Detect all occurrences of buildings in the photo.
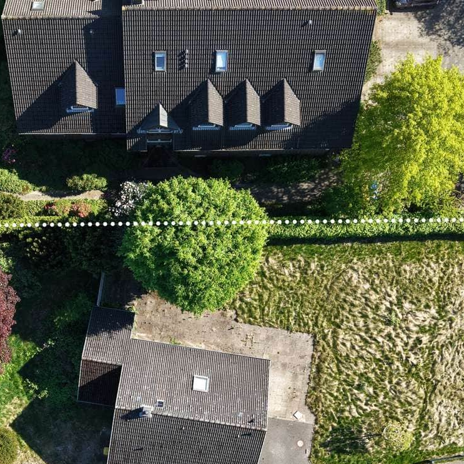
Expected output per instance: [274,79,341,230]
[0,0,378,184]
[77,305,273,464]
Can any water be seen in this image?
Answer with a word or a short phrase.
No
